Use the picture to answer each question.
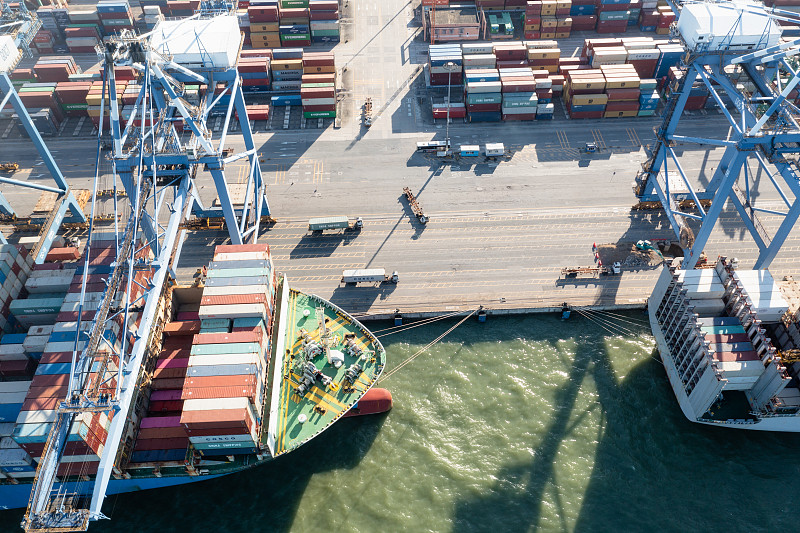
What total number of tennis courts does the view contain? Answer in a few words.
zero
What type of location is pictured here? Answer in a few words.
port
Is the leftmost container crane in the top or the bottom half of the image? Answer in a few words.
top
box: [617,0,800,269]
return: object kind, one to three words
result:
container crane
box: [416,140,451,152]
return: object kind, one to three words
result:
vehicle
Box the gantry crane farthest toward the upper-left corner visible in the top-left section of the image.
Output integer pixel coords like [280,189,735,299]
[0,10,107,278]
